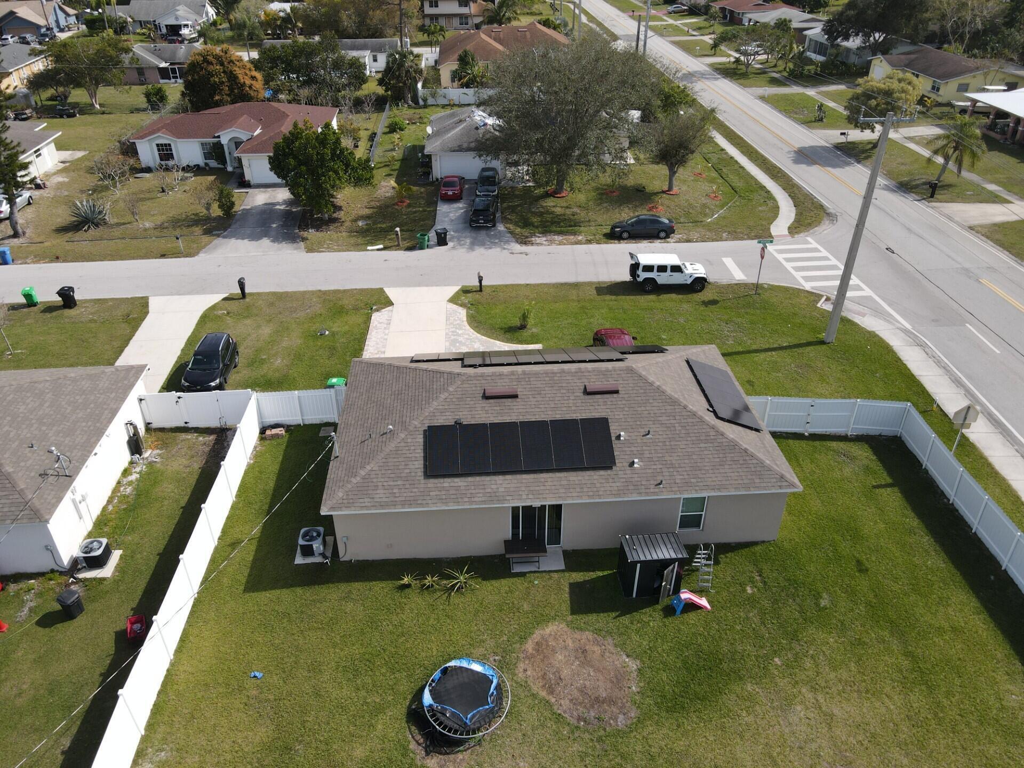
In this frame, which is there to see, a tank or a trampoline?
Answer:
trampoline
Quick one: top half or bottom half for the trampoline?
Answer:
bottom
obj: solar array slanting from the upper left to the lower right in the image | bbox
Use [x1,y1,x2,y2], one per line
[687,357,765,434]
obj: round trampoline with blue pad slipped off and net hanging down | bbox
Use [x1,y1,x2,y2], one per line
[415,658,512,758]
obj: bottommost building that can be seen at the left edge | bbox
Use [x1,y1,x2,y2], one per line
[0,363,153,574]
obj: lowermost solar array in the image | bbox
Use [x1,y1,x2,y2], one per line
[426,419,617,478]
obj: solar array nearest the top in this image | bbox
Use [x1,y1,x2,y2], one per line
[413,345,671,366]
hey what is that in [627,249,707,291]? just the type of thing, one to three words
car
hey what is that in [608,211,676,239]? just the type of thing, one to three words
car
